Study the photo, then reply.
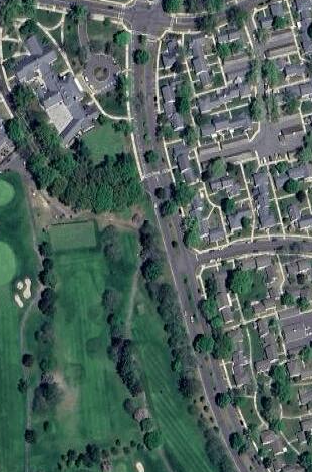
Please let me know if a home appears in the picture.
Yes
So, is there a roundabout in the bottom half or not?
No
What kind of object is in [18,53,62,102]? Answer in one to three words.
building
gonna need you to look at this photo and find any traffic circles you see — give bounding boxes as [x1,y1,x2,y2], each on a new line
[83,56,120,94]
